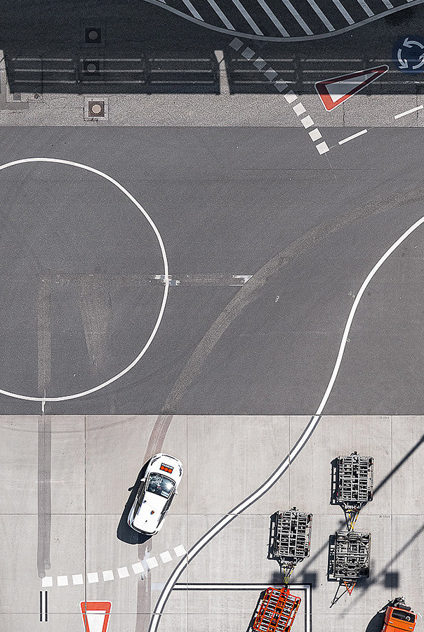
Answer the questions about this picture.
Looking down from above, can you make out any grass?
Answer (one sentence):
No, there is no grass in the image.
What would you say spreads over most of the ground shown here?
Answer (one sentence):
What you mostly see from above here is paved ground.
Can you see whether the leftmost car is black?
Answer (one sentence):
No, the color of the leftmost car is white.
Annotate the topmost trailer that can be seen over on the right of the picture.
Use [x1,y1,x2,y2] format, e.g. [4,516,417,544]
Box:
[337,452,373,529]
